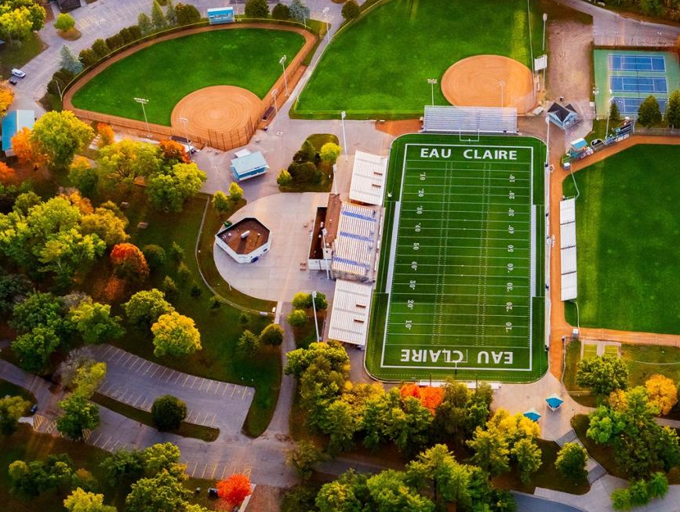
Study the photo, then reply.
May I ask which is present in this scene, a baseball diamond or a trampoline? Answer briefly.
baseball diamond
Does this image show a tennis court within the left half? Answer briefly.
No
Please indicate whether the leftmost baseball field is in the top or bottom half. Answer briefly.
top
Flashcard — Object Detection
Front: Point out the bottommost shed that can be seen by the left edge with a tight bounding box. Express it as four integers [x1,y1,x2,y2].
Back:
[1,109,33,159]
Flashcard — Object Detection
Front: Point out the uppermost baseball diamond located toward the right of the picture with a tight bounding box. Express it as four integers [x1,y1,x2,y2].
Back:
[287,0,546,120]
